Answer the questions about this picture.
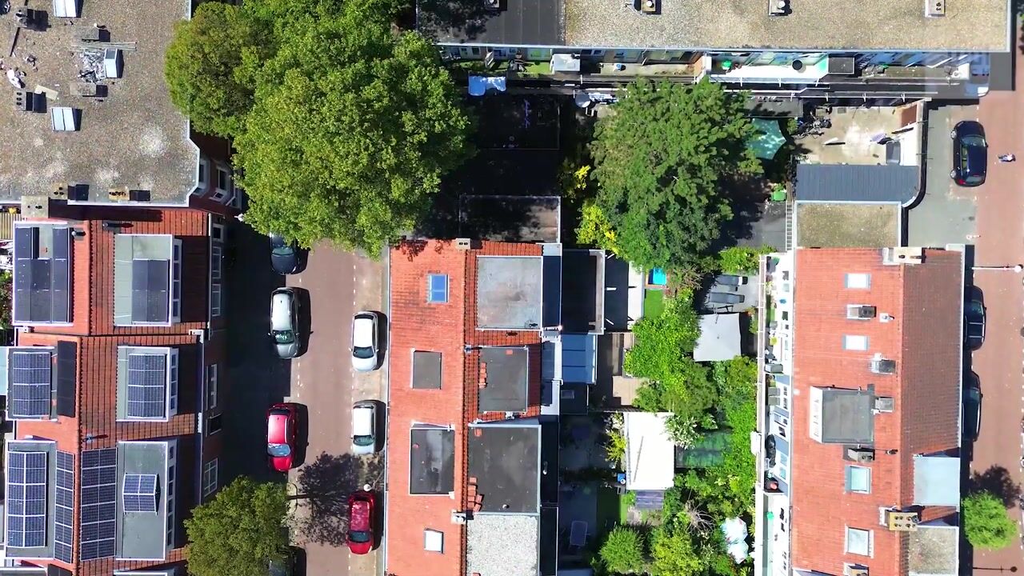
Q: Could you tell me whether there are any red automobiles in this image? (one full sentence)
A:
Yes, the frame does contain a red automobile.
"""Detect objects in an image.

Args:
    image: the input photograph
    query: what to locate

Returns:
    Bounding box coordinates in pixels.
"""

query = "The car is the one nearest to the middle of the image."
[348,313,379,370]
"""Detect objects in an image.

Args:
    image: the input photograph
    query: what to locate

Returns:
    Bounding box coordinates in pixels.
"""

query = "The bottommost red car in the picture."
[344,492,375,552]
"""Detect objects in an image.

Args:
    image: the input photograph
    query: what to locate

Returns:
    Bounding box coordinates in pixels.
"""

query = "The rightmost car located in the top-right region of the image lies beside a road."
[947,122,986,186]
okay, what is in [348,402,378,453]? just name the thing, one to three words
car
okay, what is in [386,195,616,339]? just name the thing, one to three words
house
